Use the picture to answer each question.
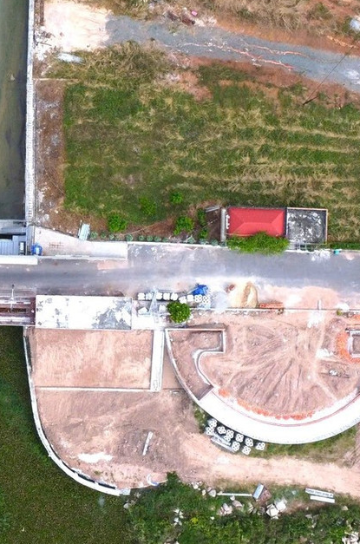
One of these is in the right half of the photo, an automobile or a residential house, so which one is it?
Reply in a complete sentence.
You can see a residential house in the right half of the photo.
